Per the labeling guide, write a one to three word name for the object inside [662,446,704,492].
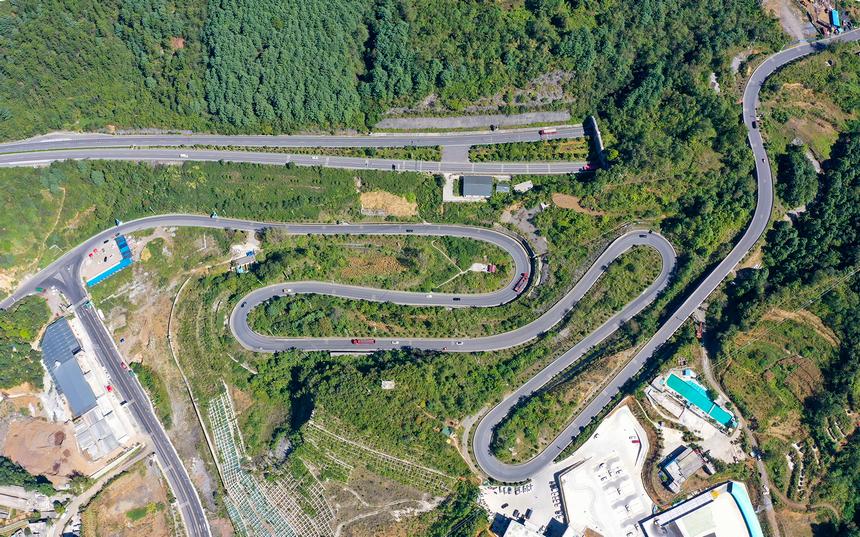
house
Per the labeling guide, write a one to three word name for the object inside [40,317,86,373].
shed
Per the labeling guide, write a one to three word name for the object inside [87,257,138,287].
building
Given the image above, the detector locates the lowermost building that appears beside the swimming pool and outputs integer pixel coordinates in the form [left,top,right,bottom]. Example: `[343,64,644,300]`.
[638,477,763,537]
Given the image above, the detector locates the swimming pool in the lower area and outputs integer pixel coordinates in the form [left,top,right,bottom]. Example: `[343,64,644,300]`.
[653,367,737,437]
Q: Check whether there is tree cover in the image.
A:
Yes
